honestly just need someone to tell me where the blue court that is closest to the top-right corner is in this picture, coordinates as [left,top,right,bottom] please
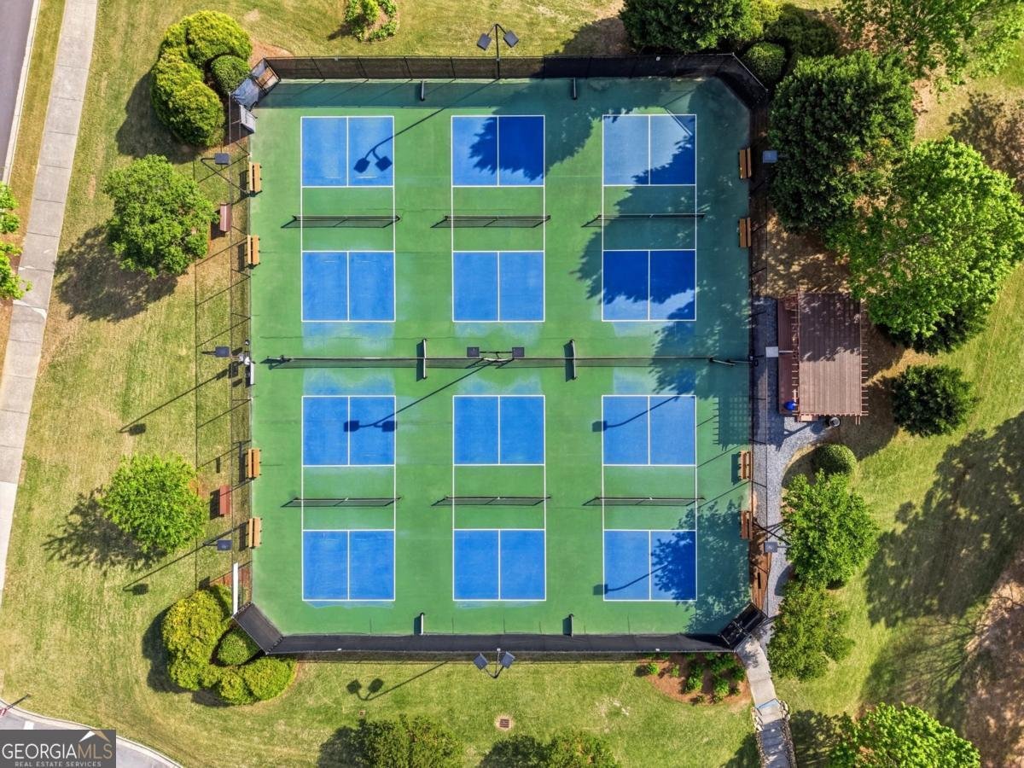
[602,114,697,321]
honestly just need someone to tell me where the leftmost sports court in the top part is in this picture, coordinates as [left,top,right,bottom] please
[301,116,395,322]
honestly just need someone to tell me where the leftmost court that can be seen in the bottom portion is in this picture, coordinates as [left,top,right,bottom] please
[302,396,396,601]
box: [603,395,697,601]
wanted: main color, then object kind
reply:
blue sports court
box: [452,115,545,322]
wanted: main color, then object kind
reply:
blue sports court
